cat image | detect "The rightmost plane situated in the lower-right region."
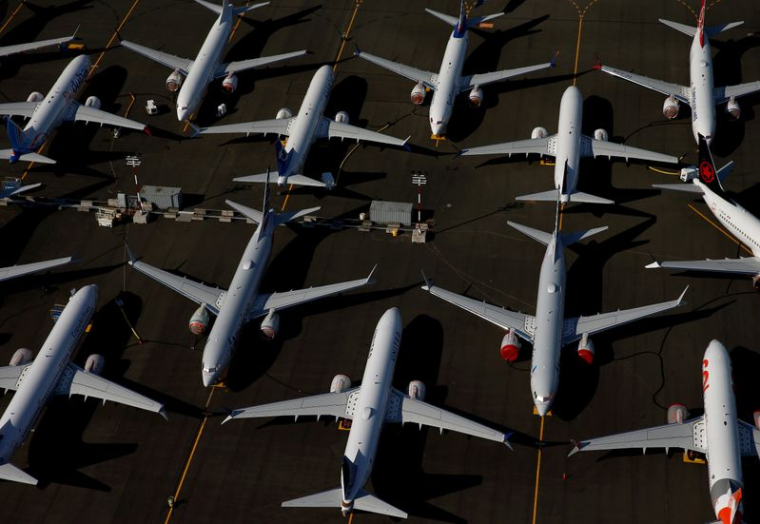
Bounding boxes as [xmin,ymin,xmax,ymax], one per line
[570,341,760,524]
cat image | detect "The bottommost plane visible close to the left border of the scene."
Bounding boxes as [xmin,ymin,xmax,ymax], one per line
[0,286,167,486]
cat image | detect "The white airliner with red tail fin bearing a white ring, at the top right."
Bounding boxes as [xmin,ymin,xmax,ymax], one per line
[594,0,760,154]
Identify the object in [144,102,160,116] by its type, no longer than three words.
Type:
vehicle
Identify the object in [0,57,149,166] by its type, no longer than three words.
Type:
airplane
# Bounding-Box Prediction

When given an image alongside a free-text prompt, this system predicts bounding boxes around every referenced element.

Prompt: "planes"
[114,0,314,124]
[570,341,760,524]
[594,0,760,154]
[649,134,760,288]
[421,182,689,418]
[188,67,412,188]
[353,0,560,138]
[126,163,378,387]
[0,57,149,166]
[0,0,79,56]
[218,310,515,522]
[451,87,688,206]
[0,286,167,486]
